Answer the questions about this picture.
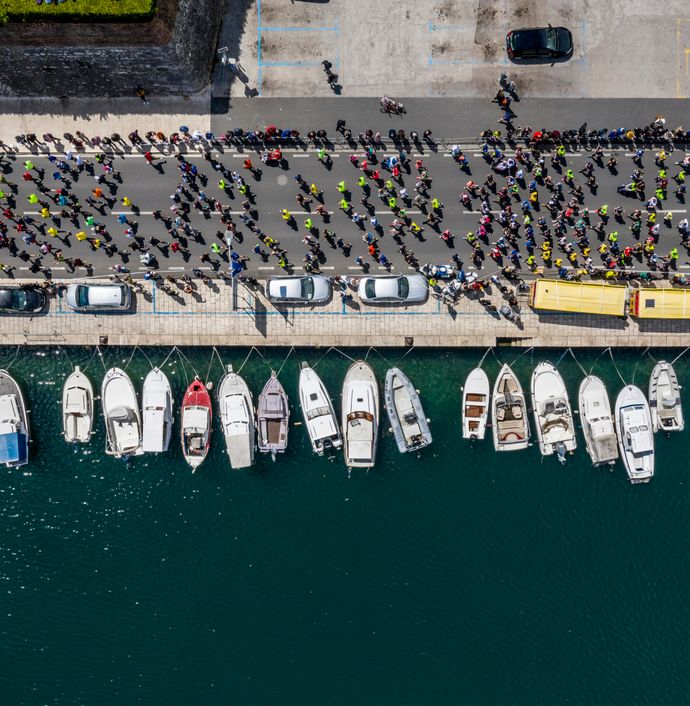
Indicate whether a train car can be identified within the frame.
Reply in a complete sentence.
Yes, the photo shows a train car.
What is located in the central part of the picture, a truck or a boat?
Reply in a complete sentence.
You can see a boat in the central part of the picture.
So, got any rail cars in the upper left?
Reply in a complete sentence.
No, no rail car appears in the upper left.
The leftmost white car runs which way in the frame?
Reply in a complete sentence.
The leftmost white car has been laid out from side to side relative to the frame.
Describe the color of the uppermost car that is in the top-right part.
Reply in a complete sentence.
From above, the uppermost car that is in the top-right part appears black.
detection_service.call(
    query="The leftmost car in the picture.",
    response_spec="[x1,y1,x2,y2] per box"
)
[0,286,47,317]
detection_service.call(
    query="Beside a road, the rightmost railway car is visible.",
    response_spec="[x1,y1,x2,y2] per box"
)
[622,285,690,320]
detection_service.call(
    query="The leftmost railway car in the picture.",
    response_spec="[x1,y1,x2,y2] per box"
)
[516,279,629,317]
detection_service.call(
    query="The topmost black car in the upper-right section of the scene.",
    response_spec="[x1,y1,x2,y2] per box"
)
[507,28,573,63]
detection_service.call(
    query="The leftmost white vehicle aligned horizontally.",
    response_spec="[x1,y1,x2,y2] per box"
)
[67,282,130,314]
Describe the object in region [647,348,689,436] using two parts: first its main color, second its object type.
white boat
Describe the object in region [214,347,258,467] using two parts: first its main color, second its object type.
white boat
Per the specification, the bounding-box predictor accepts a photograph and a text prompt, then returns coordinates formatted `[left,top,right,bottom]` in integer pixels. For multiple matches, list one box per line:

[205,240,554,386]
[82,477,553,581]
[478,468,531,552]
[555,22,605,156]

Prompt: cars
[266,274,330,306]
[507,28,573,63]
[0,286,47,317]
[67,282,130,314]
[360,274,427,307]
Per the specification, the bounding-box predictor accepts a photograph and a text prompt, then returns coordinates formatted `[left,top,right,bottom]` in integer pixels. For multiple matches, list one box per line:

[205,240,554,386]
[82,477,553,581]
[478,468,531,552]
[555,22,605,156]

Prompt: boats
[528,347,576,469]
[568,347,619,466]
[253,347,293,465]
[463,347,492,445]
[176,347,214,474]
[214,347,258,467]
[371,347,429,456]
[293,347,341,458]
[333,347,380,472]
[58,347,97,447]
[0,347,32,470]
[491,347,533,451]
[97,347,142,463]
[647,348,689,436]
[608,347,654,484]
